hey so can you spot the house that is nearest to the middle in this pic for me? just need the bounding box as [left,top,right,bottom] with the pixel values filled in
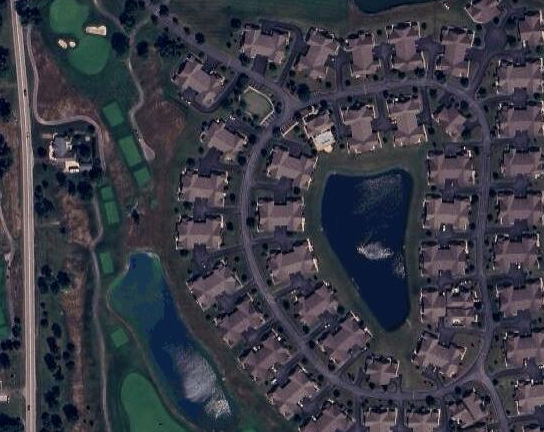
[256,197,307,234]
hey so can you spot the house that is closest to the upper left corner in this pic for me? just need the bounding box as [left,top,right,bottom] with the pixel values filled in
[48,136,74,158]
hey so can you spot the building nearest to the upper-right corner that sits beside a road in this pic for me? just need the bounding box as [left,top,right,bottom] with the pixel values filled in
[515,11,544,45]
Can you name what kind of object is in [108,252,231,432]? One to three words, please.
pond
